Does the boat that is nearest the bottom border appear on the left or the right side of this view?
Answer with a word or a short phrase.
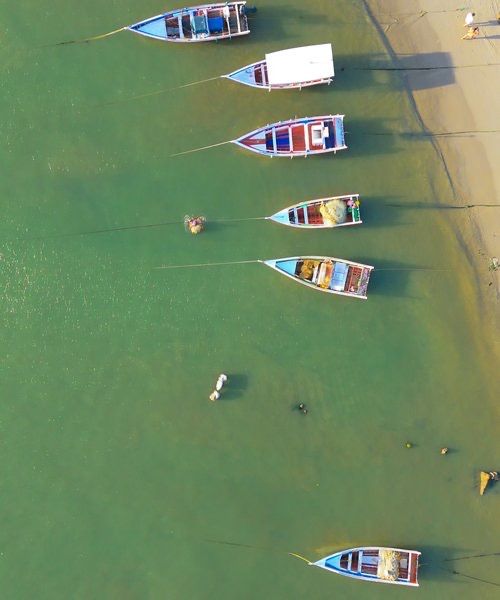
right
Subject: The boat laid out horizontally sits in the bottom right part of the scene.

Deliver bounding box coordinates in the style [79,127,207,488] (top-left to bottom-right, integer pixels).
[308,550,422,585]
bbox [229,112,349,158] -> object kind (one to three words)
boat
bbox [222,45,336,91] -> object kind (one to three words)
boat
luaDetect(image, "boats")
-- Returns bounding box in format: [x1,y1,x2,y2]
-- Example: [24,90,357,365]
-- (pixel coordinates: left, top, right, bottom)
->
[229,112,349,158]
[260,257,375,298]
[125,1,267,39]
[222,45,336,91]
[264,195,363,228]
[308,550,422,585]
